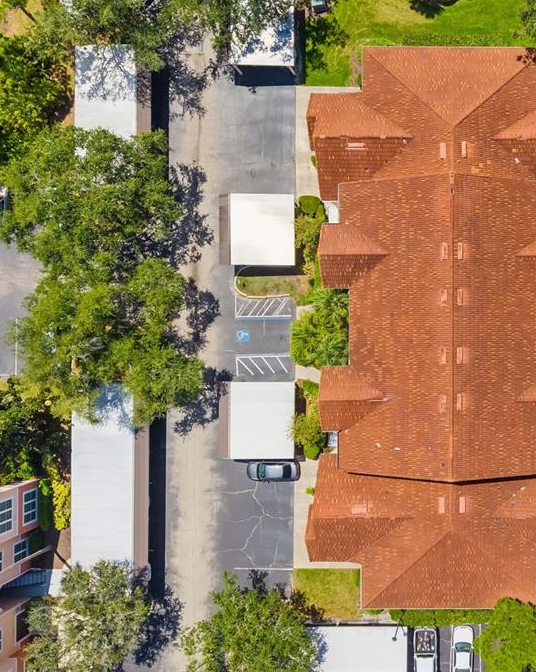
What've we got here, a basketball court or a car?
car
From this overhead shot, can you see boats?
No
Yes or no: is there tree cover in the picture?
Yes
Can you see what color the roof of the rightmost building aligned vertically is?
orange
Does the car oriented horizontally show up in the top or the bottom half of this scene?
bottom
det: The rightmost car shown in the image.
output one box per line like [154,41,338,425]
[451,624,473,672]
